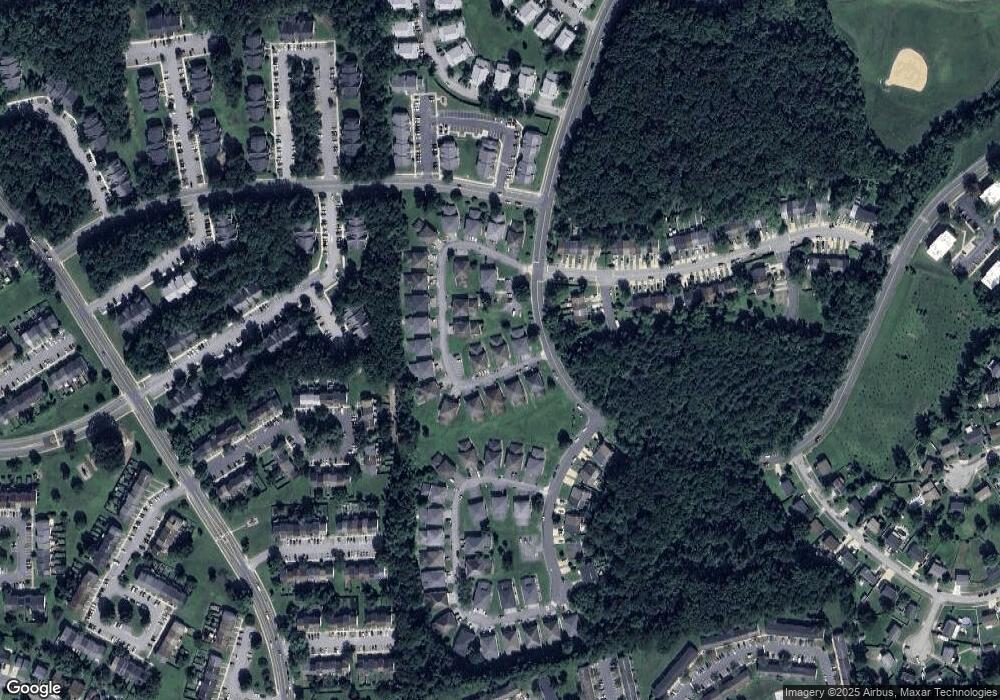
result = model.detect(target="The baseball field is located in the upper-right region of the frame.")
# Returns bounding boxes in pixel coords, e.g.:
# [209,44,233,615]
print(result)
[876,40,940,103]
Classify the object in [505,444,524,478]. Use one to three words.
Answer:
house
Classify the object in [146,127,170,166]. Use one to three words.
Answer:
building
